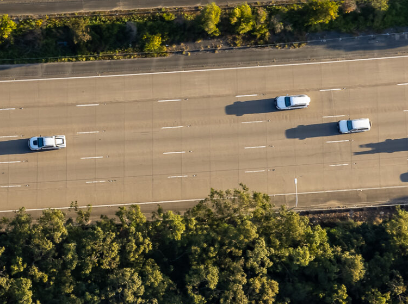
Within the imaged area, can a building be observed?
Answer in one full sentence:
No, no building can be seen from above.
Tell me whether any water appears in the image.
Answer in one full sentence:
No, the picture contains no water.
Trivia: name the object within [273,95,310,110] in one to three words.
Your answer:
car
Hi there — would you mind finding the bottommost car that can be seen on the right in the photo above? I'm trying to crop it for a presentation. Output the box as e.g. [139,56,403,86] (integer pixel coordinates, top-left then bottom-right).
[337,118,372,135]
